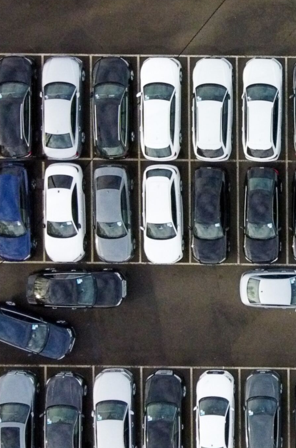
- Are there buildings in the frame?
No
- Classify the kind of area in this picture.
parking lot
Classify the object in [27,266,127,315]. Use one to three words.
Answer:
car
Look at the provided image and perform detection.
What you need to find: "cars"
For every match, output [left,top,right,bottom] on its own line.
[185,166,233,264]
[138,370,185,448]
[39,163,89,263]
[86,57,134,158]
[137,164,185,263]
[27,266,127,315]
[39,371,89,448]
[0,371,42,448]
[240,368,286,448]
[88,165,136,263]
[238,58,285,162]
[191,370,238,448]
[136,57,183,160]
[89,367,139,448]
[0,56,42,157]
[37,56,87,159]
[238,166,285,264]
[187,57,235,162]
[0,164,37,261]
[0,298,80,359]
[241,269,296,310]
